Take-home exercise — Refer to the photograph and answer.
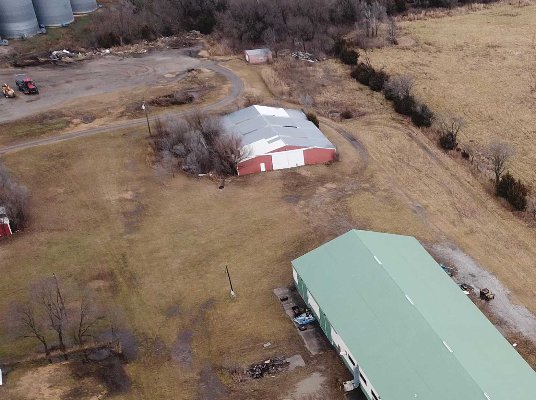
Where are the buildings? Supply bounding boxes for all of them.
[206,105,337,176]
[0,212,11,235]
[289,228,536,400]
[247,50,270,65]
